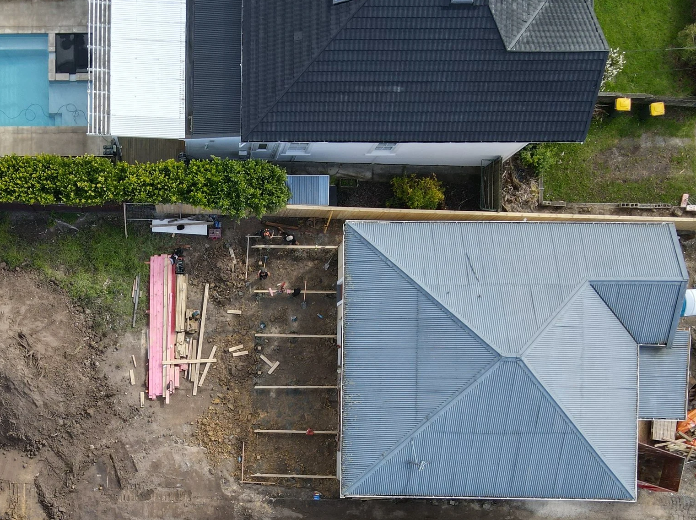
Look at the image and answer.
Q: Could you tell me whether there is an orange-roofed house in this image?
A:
No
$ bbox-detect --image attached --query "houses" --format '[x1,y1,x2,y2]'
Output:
[185,0,612,168]
[334,218,693,505]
